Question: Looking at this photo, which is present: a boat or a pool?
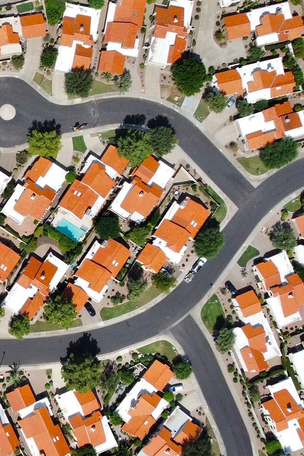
pool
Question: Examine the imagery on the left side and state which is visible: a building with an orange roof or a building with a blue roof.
building with an orange roof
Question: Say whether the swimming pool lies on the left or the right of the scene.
left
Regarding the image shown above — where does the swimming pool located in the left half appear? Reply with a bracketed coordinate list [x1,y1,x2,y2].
[56,217,85,243]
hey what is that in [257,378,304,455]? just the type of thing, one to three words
house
